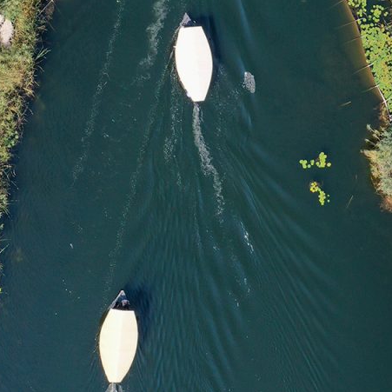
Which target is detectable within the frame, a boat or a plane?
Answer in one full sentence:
This aerial view contains a boat.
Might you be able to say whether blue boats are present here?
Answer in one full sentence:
No, the frame has no blue boat in it.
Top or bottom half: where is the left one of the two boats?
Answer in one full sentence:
The left one of the two boats sits in the bottom half of the picture.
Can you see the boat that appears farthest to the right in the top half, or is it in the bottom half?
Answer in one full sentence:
It is in the top half that the boat that appears farthest to the right appears.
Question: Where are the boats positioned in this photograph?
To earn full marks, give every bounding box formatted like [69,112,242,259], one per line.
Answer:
[172,14,212,107]
[100,291,137,383]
